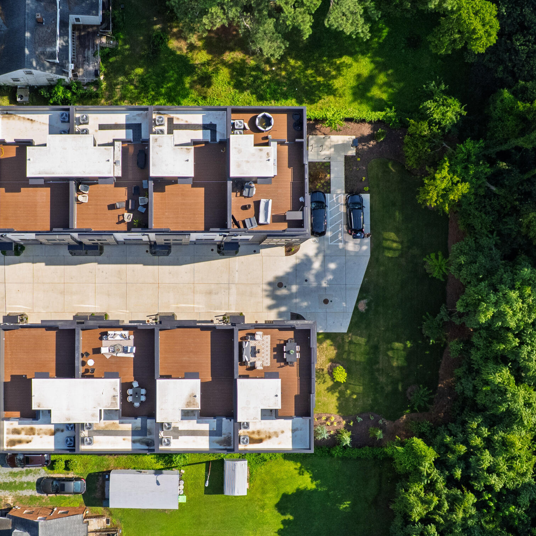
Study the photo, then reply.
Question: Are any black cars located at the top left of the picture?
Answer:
No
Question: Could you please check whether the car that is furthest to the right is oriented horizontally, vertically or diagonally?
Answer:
vertically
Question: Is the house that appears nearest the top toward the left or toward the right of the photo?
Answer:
left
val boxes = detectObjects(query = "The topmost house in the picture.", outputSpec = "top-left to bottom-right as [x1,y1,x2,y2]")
[0,0,113,84]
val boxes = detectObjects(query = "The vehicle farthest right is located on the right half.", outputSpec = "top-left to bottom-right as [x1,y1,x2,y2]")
[344,191,366,238]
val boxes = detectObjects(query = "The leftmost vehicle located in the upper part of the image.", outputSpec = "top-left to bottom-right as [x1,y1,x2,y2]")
[309,191,330,236]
